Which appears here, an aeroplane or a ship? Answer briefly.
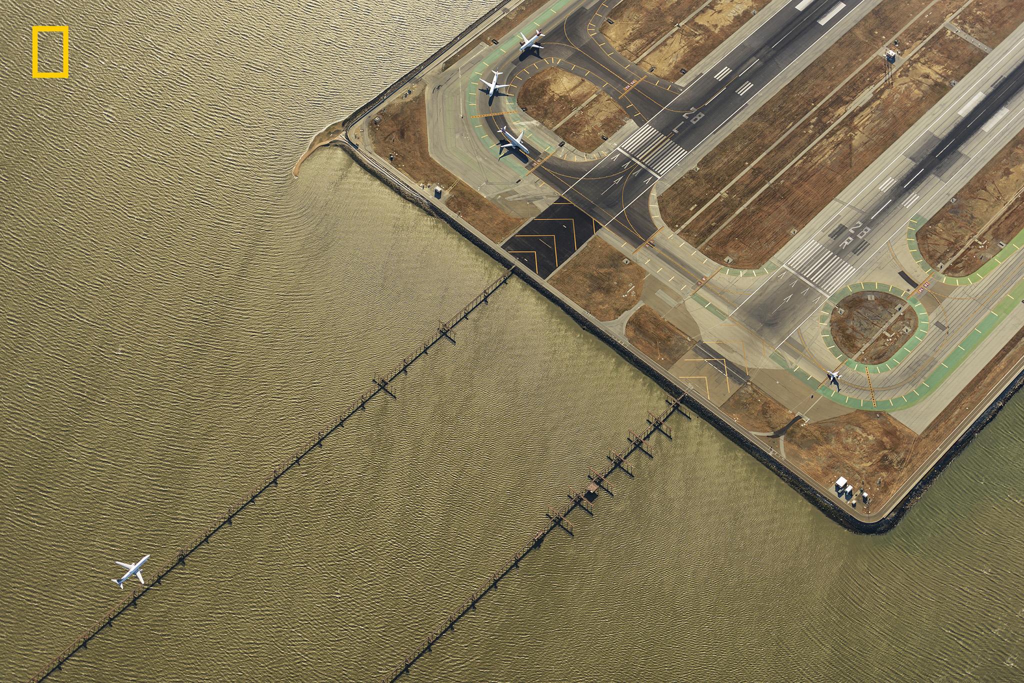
aeroplane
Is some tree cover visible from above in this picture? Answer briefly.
No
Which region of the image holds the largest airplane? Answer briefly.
bottom left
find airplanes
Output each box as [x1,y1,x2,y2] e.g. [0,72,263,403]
[479,67,510,97]
[520,29,545,51]
[114,555,150,588]
[498,126,529,153]
[827,371,843,381]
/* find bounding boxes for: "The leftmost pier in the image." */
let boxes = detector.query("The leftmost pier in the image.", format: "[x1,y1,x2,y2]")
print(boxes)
[25,262,519,683]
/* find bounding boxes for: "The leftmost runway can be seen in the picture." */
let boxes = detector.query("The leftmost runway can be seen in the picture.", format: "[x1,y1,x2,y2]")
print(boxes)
[561,0,865,225]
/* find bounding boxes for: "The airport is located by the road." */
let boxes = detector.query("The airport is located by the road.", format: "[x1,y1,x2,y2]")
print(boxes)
[341,0,1024,507]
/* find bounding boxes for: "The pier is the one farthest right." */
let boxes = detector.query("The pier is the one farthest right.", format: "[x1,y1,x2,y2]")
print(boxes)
[380,385,695,683]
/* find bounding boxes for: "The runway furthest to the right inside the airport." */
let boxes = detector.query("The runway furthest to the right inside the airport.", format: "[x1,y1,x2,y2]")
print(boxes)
[729,39,1024,349]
